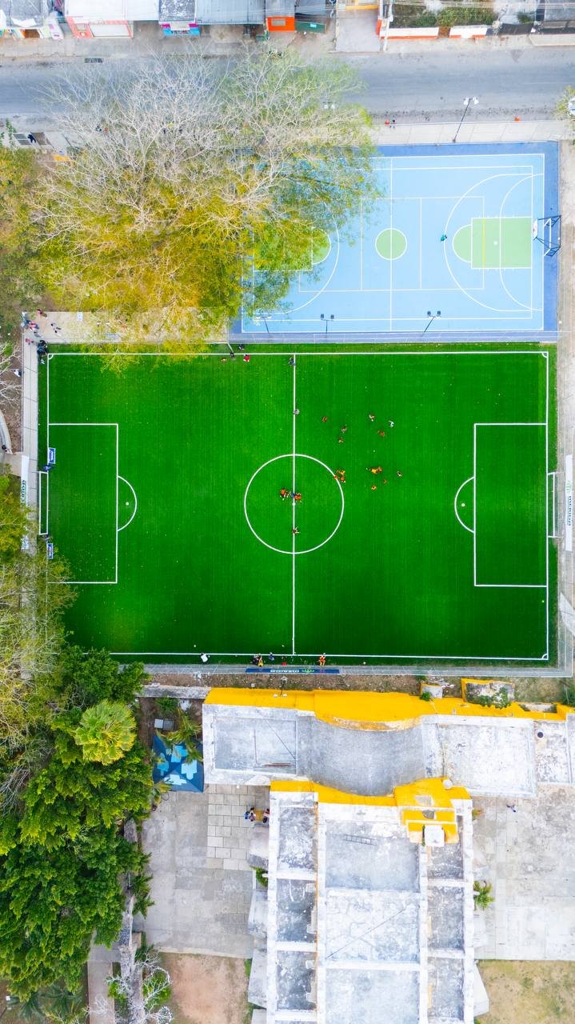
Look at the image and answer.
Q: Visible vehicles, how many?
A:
0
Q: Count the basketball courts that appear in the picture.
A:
one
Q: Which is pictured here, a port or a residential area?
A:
residential area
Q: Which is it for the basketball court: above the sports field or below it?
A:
above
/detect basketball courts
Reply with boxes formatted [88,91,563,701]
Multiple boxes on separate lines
[232,142,558,343]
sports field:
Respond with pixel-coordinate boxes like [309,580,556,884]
[38,344,557,663]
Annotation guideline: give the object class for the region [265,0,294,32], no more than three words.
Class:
house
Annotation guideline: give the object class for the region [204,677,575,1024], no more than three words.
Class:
church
